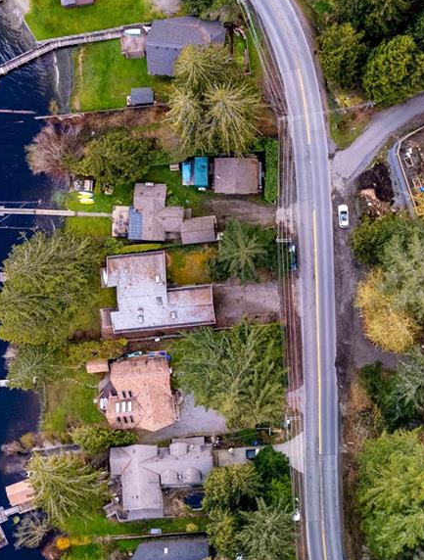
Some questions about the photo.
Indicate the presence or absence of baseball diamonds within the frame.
No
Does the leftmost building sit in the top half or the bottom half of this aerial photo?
bottom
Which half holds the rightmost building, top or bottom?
top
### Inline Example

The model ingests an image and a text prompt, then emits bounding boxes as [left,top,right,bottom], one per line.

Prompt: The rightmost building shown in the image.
[214,155,259,197]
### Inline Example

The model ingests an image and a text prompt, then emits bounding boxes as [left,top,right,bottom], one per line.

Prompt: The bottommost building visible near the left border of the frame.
[6,477,37,506]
